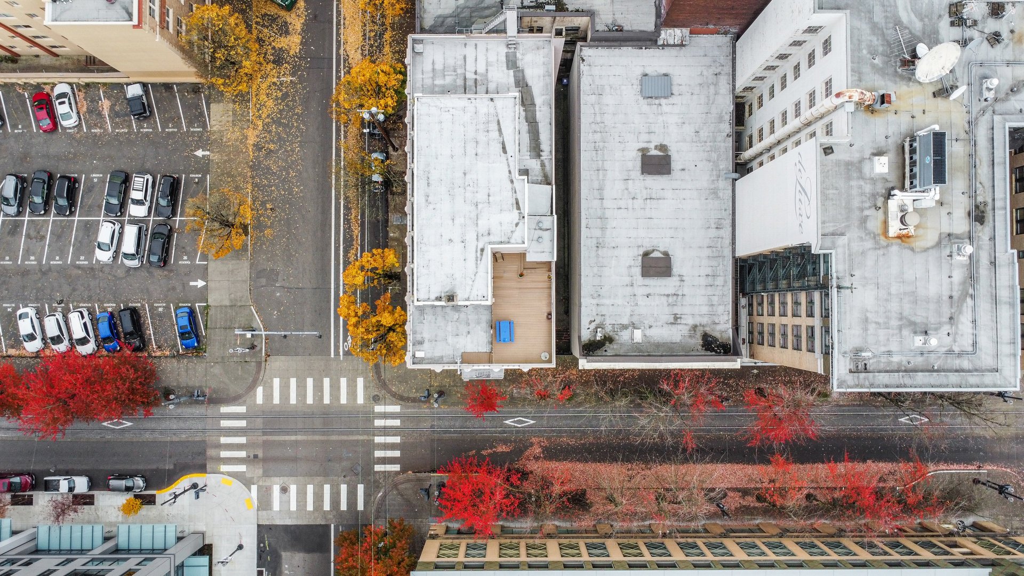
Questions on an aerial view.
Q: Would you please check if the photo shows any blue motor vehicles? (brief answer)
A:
Yes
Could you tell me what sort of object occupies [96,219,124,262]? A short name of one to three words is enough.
car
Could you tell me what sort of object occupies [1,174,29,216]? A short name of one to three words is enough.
car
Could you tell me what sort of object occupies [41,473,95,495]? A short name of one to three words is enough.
truck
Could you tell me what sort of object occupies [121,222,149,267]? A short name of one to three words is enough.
van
